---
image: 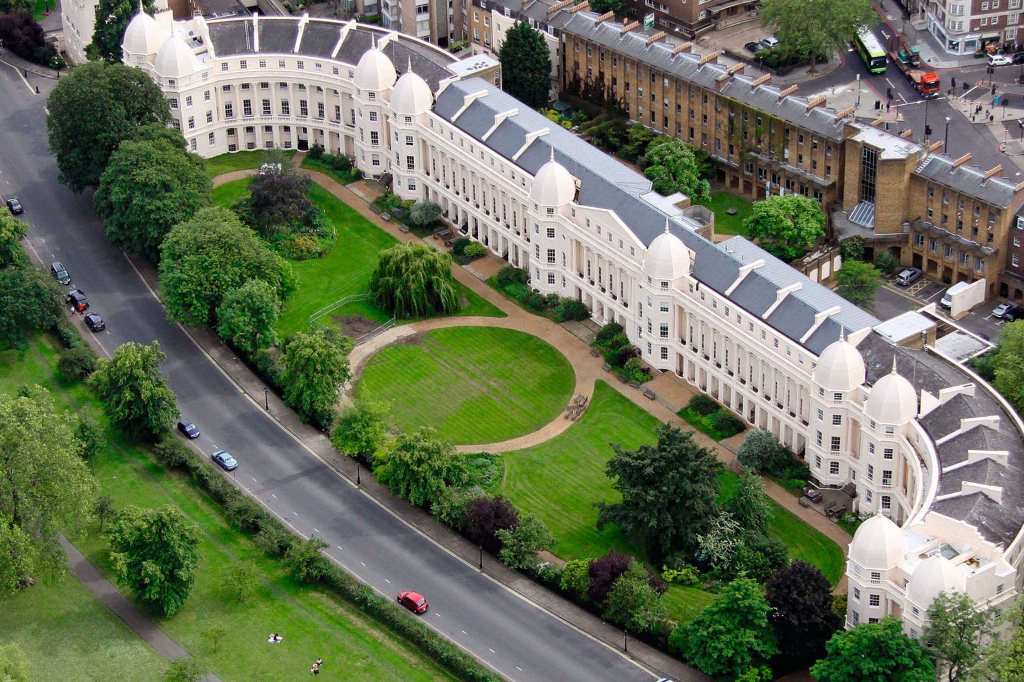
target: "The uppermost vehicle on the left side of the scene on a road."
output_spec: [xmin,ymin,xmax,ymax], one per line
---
[6,197,23,213]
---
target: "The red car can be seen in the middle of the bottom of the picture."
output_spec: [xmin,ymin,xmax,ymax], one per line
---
[397,588,430,611]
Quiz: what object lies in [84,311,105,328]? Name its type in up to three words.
car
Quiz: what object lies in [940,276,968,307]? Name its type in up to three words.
van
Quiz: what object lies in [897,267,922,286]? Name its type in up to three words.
car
